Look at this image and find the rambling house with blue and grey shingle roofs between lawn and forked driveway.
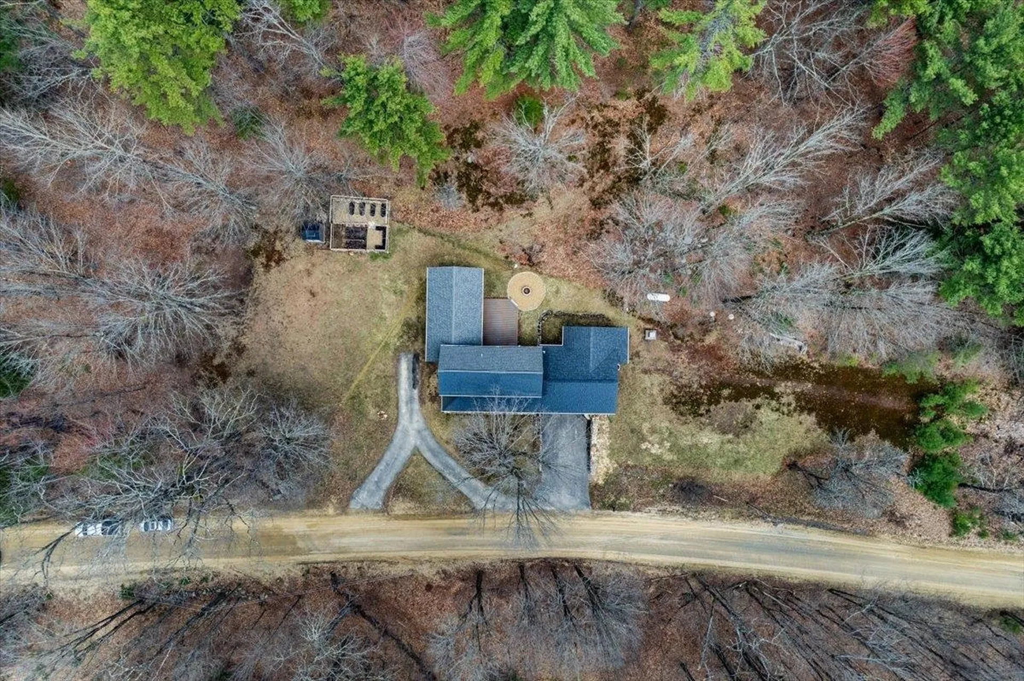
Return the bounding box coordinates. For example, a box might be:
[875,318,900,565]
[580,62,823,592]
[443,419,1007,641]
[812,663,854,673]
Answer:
[426,266,630,414]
